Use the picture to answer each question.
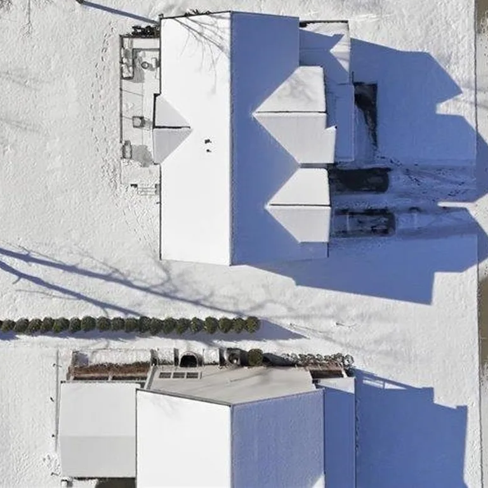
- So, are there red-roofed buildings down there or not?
No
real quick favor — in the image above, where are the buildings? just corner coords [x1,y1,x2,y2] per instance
[151,10,354,265]
[56,364,357,488]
